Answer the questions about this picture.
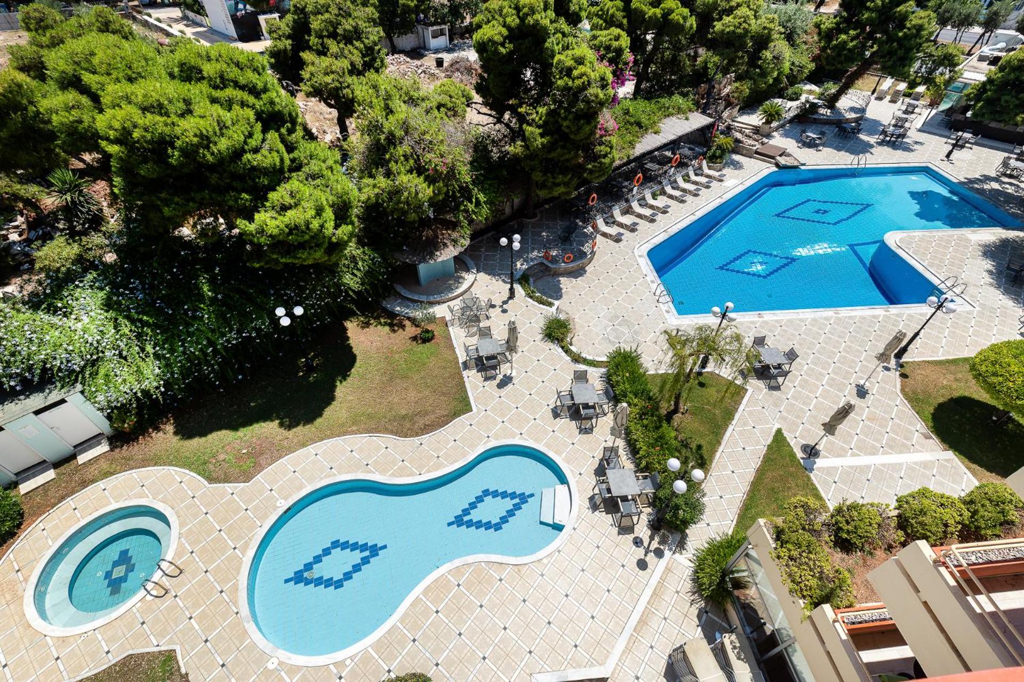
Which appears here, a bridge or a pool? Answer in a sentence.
The image shows a pool.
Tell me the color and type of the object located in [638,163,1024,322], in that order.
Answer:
blue swimming pool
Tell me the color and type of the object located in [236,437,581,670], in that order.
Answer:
blue swimming pool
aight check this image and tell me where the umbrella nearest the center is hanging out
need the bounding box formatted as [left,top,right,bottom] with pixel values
[505,322,521,381]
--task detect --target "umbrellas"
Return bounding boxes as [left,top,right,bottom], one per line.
[600,412,624,469]
[799,402,852,464]
[505,322,521,381]
[941,113,980,161]
[856,335,910,391]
